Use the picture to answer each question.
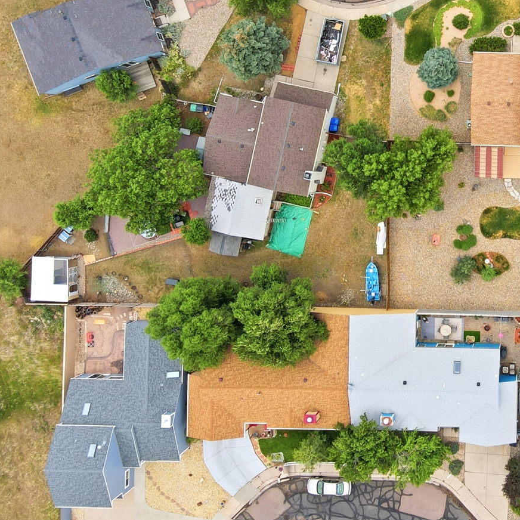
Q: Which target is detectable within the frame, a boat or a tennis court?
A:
boat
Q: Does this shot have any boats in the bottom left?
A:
No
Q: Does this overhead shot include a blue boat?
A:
Yes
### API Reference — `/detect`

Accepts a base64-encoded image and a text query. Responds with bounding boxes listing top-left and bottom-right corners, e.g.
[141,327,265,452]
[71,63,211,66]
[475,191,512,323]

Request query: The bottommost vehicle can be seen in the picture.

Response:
[308,476,353,499]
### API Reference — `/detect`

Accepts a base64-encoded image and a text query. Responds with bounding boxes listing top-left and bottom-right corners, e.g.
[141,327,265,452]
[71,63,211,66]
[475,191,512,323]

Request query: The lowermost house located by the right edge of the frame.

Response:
[347,310,518,448]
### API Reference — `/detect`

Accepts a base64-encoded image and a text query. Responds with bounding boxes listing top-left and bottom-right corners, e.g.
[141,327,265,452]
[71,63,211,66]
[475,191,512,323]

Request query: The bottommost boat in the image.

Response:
[357,255,382,307]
